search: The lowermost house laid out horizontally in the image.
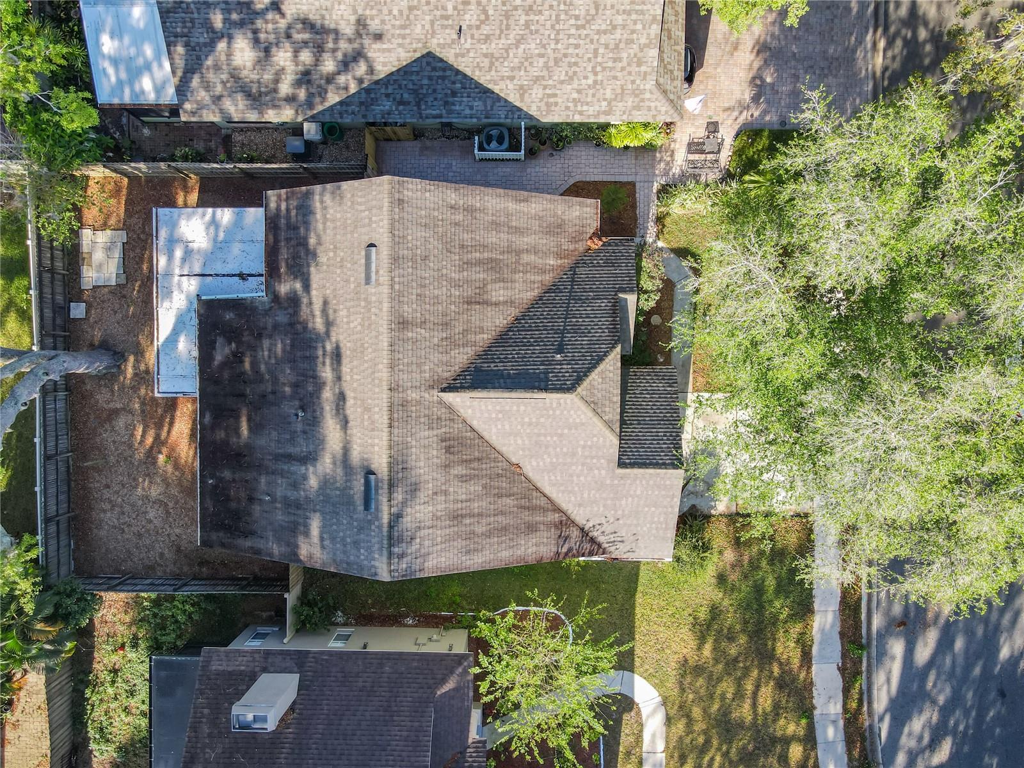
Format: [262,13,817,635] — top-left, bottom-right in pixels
[177,626,487,768]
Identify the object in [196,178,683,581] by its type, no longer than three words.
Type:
house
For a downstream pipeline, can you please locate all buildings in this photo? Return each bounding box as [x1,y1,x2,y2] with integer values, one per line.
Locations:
[196,178,683,581]
[160,0,685,128]
[177,626,487,768]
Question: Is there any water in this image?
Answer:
No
